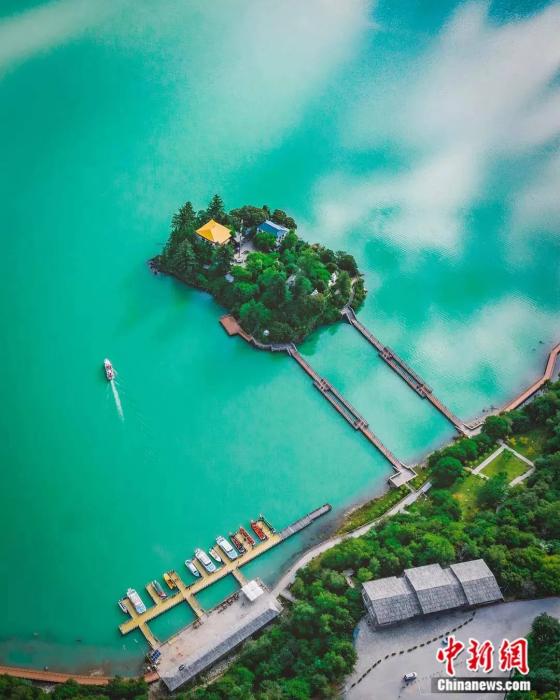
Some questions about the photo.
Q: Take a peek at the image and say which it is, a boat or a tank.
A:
boat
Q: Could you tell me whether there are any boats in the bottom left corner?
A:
Yes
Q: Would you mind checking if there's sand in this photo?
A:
No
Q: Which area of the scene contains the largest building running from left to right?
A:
bottom right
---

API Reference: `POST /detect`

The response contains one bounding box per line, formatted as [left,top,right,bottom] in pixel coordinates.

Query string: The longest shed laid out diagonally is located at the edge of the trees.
[162,603,284,687]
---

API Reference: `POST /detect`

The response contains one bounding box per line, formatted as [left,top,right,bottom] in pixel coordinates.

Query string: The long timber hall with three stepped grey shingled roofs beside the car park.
[361,558,505,635]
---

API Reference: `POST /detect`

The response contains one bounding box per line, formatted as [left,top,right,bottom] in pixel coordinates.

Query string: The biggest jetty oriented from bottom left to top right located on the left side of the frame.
[120,522,282,634]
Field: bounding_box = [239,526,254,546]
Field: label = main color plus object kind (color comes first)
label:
red boat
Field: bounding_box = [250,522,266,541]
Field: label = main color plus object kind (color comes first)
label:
red boat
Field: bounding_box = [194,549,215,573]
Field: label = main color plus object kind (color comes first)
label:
white boat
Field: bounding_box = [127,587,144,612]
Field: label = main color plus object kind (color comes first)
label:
white boat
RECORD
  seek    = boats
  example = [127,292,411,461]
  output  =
[250,522,266,541]
[229,536,243,554]
[261,515,274,533]
[194,549,215,573]
[185,560,200,577]
[165,574,177,590]
[217,537,237,558]
[209,549,221,562]
[127,587,144,612]
[105,359,114,381]
[151,581,165,600]
[239,526,254,546]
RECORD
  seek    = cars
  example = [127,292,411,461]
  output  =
[403,671,418,682]
[439,634,451,647]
